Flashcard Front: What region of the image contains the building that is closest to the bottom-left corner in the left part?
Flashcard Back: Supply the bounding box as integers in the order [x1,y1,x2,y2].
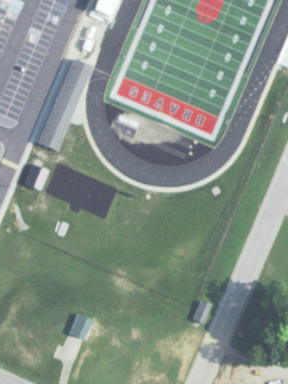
[68,314,94,342]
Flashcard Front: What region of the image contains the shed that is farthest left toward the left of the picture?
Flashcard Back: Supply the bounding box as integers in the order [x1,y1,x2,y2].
[24,163,49,190]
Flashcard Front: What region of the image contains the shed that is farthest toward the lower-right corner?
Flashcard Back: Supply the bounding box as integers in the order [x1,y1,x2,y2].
[192,301,213,325]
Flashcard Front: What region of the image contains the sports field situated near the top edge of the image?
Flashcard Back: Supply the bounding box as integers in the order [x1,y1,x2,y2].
[104,0,282,148]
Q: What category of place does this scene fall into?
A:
sports ground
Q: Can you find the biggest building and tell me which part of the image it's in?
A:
top left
